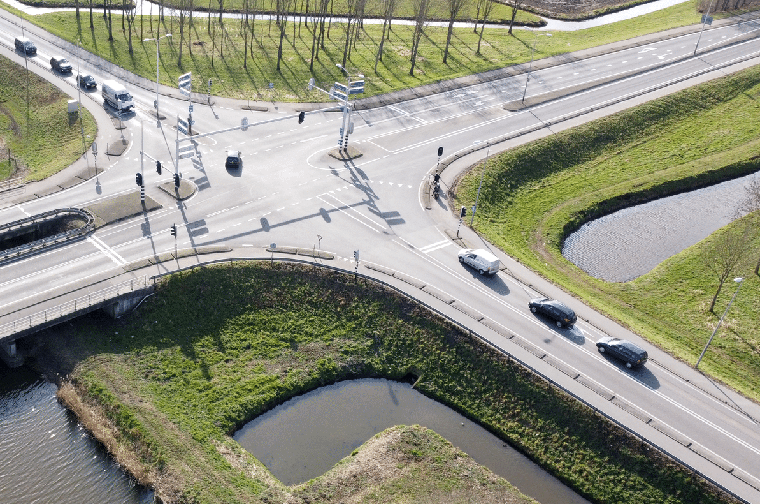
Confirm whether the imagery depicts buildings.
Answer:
No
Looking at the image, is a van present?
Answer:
Yes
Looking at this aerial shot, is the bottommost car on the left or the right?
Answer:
right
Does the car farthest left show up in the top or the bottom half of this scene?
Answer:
top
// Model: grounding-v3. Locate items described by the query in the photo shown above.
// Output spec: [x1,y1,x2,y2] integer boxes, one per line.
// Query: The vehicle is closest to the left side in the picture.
[13,33,40,54]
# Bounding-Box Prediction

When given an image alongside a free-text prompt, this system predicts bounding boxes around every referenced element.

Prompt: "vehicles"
[595,335,652,370]
[13,33,40,54]
[434,182,443,199]
[102,78,138,112]
[527,296,582,330]
[48,53,77,73]
[73,71,99,90]
[455,246,504,278]
[225,146,242,164]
